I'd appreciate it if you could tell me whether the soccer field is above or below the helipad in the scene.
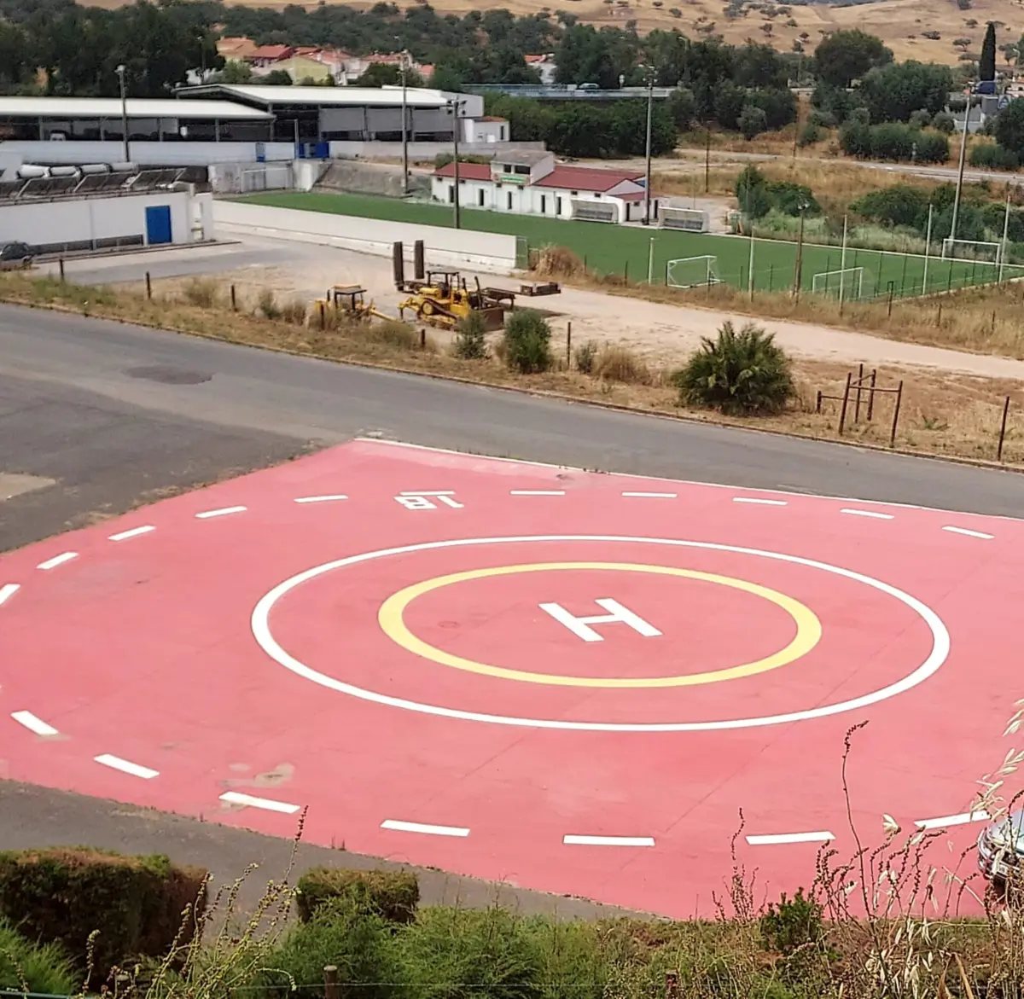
above it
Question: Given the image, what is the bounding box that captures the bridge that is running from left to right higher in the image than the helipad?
[443,76,699,105]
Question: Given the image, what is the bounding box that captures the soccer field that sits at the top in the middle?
[205,189,1024,309]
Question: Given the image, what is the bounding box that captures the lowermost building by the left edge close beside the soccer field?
[0,188,210,249]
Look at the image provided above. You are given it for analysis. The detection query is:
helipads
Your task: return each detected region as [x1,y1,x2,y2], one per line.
[0,438,1024,951]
